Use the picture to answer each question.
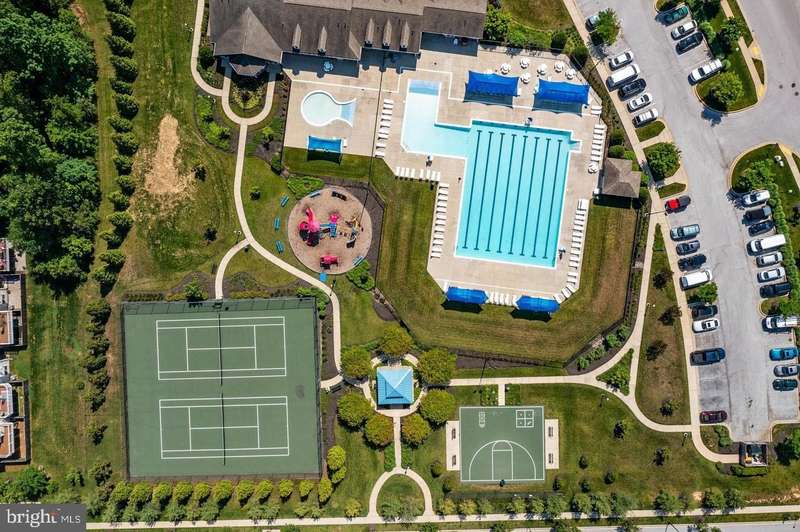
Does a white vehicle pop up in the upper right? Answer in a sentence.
Yes, there is a white vehicle in the upper right.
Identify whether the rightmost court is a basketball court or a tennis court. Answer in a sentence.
The rightmost court in the image is a basketball court.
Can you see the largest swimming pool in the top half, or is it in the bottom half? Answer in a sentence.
It is in the top half that the largest swimming pool appears.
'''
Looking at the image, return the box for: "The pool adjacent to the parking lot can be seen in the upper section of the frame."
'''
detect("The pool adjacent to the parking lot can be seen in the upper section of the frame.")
[399,77,584,270]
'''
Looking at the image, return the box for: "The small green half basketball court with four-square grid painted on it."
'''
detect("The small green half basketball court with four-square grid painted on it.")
[459,406,545,482]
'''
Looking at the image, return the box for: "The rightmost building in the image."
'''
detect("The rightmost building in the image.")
[600,158,641,198]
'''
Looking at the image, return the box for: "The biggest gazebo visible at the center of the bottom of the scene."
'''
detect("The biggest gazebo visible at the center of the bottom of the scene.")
[377,367,412,408]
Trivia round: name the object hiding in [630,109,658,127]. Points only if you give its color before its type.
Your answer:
white car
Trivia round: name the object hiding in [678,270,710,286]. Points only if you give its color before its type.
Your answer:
white vehicle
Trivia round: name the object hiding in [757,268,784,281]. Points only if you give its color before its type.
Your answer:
white vehicle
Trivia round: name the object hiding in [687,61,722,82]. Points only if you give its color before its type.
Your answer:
white truck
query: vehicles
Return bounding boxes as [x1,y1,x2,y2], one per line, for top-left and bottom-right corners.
[676,255,706,270]
[607,52,634,70]
[771,378,797,391]
[626,95,652,112]
[583,12,609,30]
[698,410,727,423]
[663,195,693,211]
[687,61,722,82]
[741,192,771,207]
[746,220,777,234]
[755,252,781,266]
[757,268,784,281]
[773,364,799,377]
[758,283,791,297]
[768,348,797,360]
[670,20,698,40]
[630,109,658,127]
[689,305,719,319]
[617,80,645,98]
[689,349,725,363]
[660,5,691,25]
[746,236,788,252]
[605,66,639,87]
[674,241,701,254]
[740,206,774,223]
[762,316,797,330]
[674,34,704,53]
[691,319,720,332]
[670,226,702,240]
[678,270,710,286]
